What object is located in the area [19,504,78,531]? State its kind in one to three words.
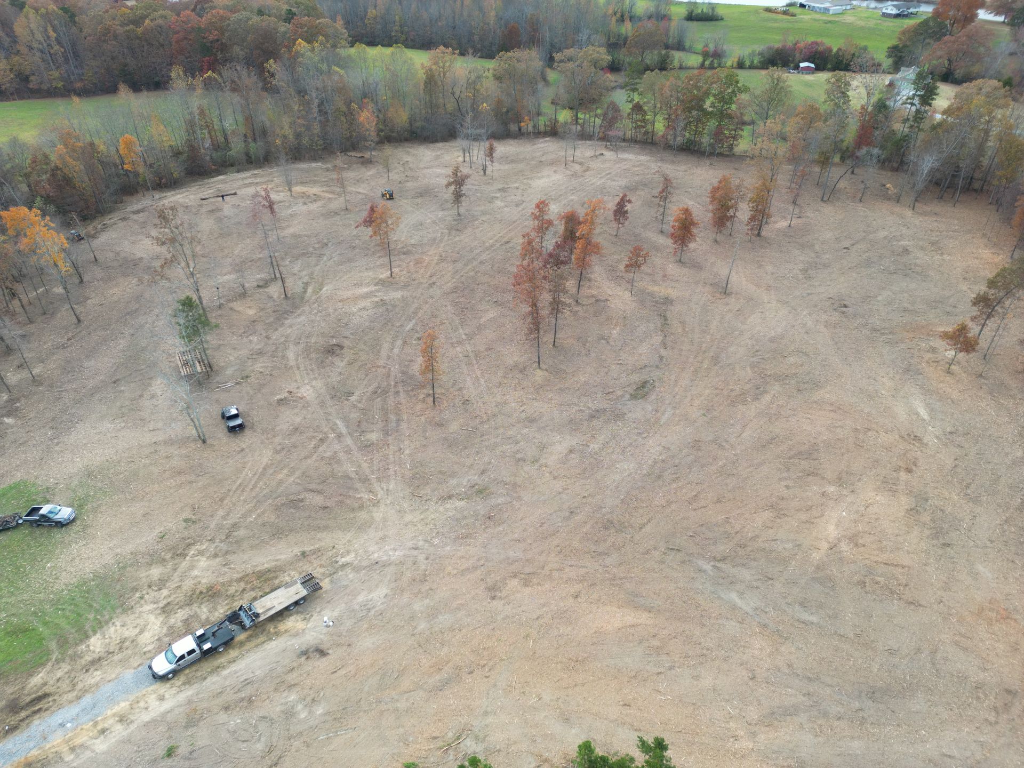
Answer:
truck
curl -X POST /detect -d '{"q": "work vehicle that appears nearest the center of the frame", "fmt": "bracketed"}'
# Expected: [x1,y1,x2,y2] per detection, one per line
[375,188,394,201]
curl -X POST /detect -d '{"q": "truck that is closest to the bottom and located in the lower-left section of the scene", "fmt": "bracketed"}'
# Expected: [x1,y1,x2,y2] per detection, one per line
[147,619,235,682]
